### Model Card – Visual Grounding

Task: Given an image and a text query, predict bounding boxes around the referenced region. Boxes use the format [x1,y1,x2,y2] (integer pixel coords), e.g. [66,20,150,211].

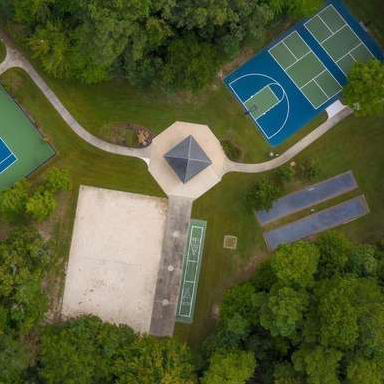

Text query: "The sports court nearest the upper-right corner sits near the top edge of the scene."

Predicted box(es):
[304,5,378,76]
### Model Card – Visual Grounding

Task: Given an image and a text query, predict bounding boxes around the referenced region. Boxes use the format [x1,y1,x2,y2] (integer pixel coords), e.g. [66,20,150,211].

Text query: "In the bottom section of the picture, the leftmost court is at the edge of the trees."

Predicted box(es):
[61,184,168,337]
